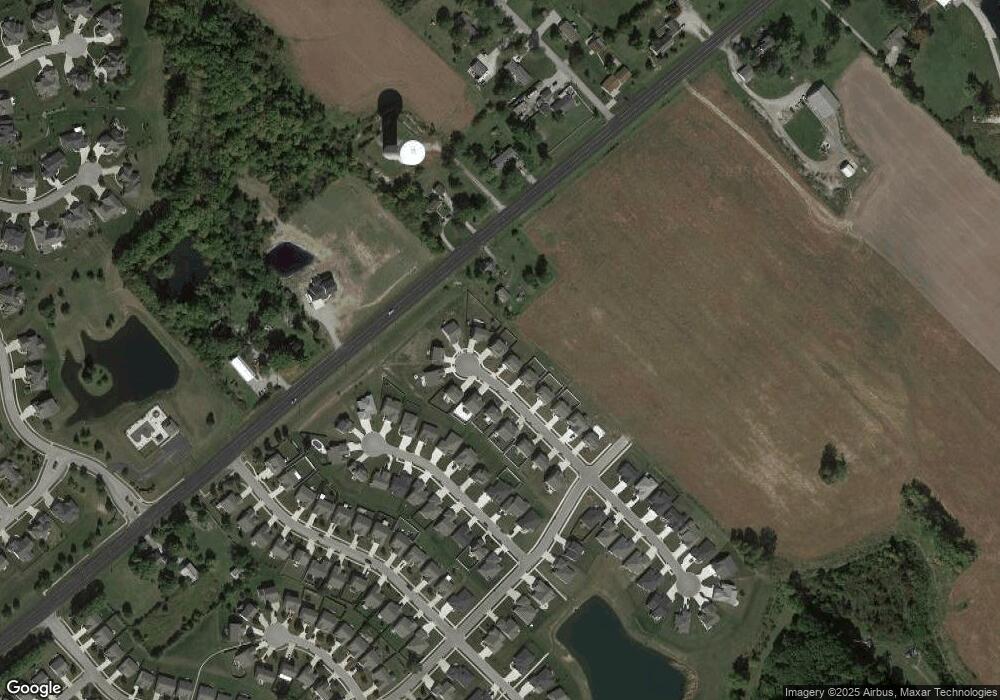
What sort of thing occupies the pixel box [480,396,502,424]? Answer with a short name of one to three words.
house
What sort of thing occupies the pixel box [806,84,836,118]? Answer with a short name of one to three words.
barn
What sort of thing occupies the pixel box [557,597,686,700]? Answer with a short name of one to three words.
pond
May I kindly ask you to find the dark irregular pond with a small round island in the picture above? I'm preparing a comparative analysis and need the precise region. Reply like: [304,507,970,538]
[62,315,179,425]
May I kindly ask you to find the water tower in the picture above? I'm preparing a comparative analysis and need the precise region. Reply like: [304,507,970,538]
[383,137,425,164]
